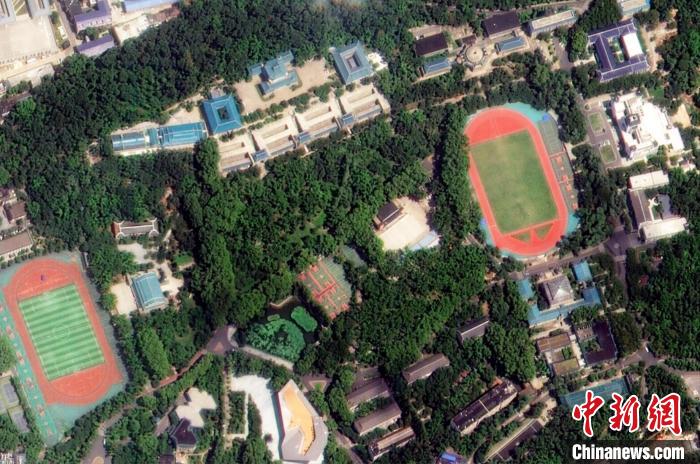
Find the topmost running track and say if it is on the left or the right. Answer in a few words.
right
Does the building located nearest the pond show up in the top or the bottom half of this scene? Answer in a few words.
bottom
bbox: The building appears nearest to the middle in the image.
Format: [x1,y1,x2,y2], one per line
[377,203,402,227]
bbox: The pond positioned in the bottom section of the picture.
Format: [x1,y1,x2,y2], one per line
[237,294,328,364]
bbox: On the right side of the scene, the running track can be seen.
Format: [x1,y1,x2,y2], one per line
[464,102,578,260]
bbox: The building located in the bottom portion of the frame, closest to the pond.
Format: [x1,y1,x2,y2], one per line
[278,379,329,464]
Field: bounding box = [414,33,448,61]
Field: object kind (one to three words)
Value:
building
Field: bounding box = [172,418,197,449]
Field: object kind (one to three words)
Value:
house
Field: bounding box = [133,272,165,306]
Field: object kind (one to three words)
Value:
building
